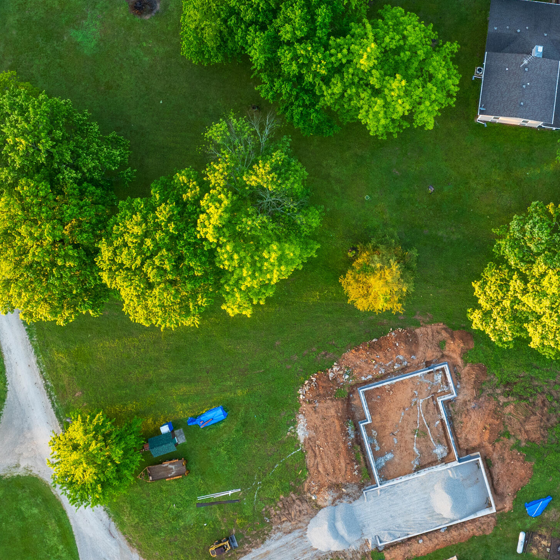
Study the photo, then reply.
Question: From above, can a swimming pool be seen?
No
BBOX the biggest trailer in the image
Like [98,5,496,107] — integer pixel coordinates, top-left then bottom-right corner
[135,458,190,483]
